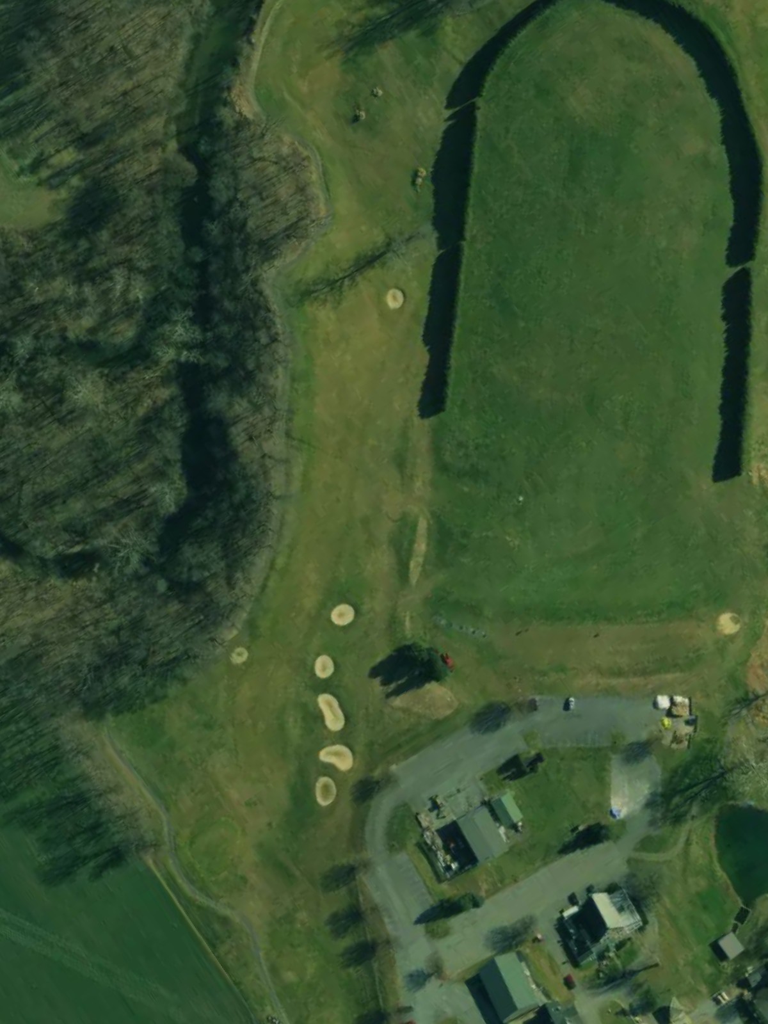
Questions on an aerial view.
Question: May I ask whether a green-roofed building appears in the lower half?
Yes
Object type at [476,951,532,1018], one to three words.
barn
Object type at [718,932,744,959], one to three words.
shed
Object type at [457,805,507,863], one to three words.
building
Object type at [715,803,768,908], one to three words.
pond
